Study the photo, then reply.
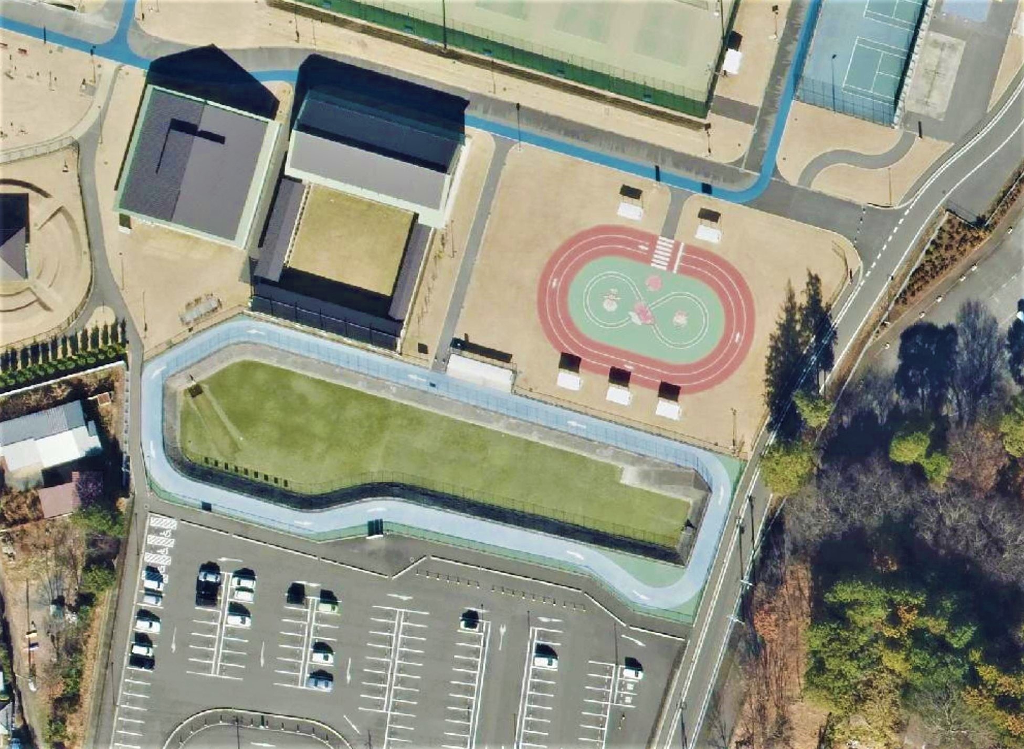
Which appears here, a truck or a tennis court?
tennis court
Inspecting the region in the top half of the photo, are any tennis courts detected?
Yes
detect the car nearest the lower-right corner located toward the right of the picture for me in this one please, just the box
[623,670,644,682]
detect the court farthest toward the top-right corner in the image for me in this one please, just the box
[866,0,924,31]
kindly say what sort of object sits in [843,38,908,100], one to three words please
tennis court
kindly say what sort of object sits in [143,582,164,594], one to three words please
vehicle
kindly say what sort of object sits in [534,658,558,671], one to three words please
vehicle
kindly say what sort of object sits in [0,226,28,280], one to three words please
building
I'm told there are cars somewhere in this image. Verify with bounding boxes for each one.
[131,648,153,659]
[143,582,164,594]
[234,592,254,603]
[142,597,162,608]
[195,583,220,596]
[285,596,305,606]
[227,617,251,629]
[194,596,218,608]
[232,578,256,590]
[135,622,160,635]
[534,658,558,671]
[198,572,220,583]
[459,620,481,632]
[623,670,644,682]
[318,604,338,615]
[312,654,333,665]
[129,658,155,671]
[307,680,333,693]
